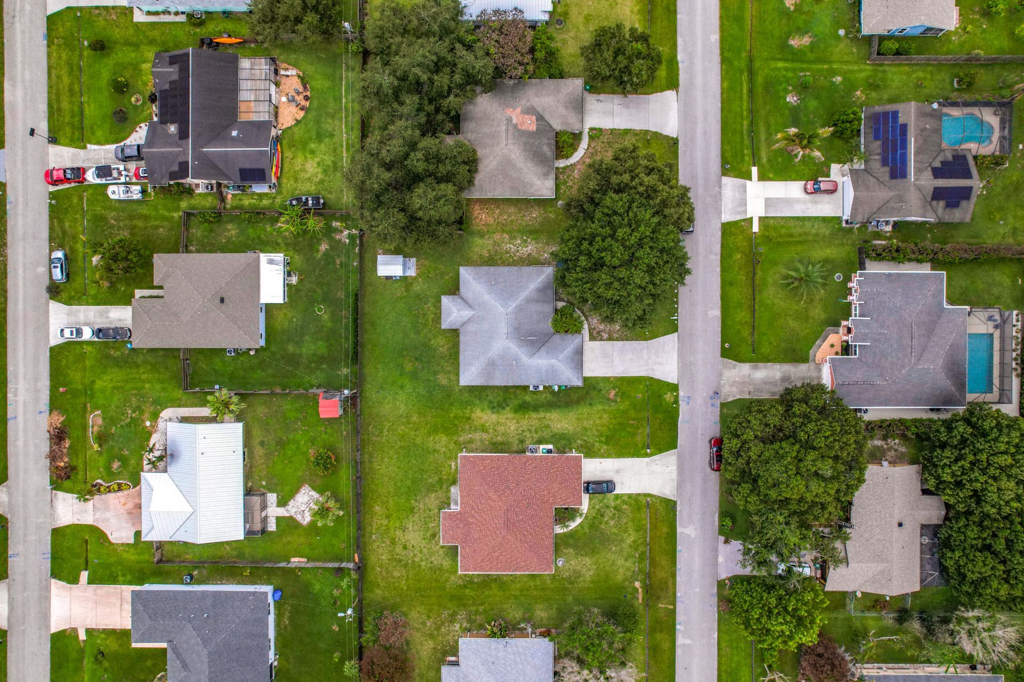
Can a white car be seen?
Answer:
Yes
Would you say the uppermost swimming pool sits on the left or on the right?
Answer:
right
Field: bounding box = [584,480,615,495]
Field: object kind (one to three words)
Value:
car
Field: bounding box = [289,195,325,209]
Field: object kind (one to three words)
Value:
boat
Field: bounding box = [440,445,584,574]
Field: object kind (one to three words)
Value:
house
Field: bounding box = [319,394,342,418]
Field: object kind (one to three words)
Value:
shed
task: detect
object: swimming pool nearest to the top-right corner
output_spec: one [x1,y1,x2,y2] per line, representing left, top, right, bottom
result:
[942,112,995,147]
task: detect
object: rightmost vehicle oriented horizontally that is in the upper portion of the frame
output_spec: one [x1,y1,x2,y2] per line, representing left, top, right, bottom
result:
[803,178,838,195]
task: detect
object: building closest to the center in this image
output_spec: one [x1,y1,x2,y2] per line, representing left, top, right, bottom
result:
[441,265,584,387]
